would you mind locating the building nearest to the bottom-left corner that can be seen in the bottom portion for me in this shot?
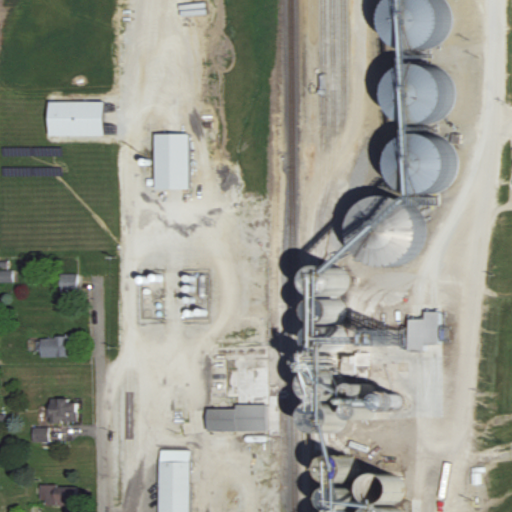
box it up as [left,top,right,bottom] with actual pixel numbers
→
[40,484,80,505]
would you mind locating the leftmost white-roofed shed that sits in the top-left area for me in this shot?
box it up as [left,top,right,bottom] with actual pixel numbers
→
[49,102,108,138]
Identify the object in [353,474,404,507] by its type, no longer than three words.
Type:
silo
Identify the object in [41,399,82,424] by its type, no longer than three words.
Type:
house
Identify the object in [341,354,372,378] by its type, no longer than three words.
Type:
shed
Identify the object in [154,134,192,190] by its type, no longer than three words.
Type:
building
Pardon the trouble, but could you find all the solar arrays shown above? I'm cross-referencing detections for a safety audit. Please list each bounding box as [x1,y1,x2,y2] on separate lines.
[2,148,63,156]
[2,168,63,176]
